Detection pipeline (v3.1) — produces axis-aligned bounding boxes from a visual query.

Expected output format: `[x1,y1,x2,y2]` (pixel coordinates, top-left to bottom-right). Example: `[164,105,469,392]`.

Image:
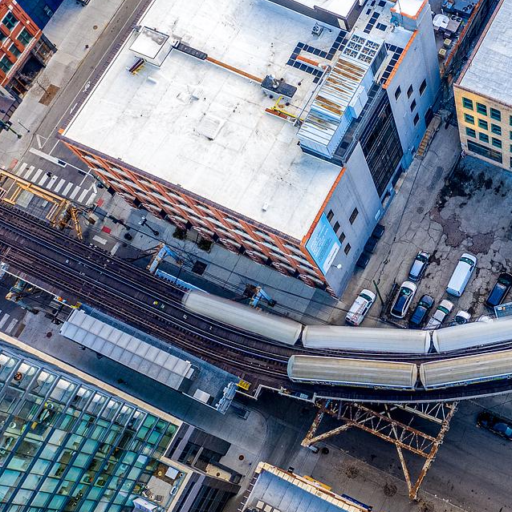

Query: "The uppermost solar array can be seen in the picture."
[363,0,389,33]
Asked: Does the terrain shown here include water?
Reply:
No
